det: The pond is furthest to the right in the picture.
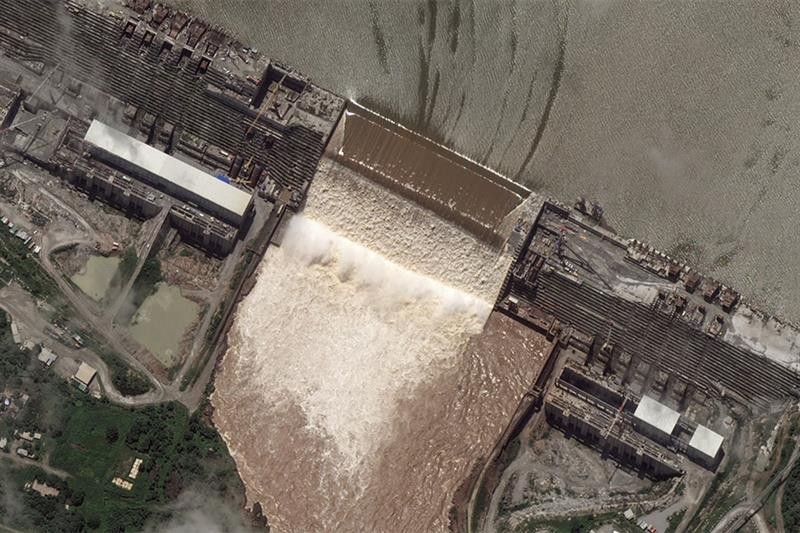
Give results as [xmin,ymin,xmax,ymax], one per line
[132,284,198,366]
